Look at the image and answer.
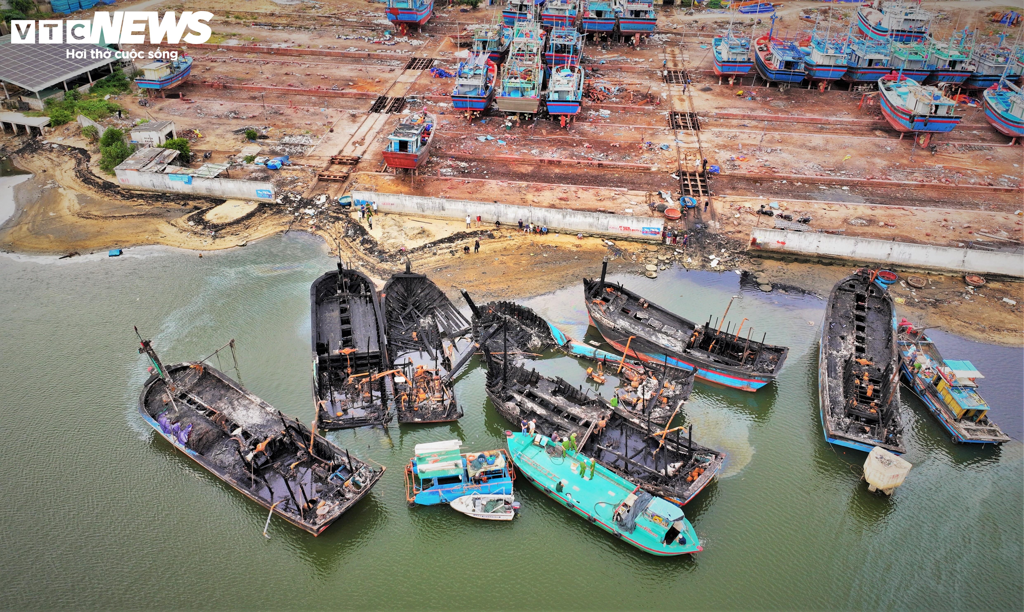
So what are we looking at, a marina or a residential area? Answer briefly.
marina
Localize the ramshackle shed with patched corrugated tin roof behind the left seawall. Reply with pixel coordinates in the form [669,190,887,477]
[115,144,267,180]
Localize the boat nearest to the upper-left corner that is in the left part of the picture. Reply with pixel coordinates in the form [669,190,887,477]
[138,51,208,98]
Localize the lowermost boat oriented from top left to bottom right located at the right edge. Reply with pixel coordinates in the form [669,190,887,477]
[903,315,1013,450]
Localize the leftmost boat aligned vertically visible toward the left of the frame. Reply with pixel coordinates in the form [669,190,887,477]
[309,227,399,439]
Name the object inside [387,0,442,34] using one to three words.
boat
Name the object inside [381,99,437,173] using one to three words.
boat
